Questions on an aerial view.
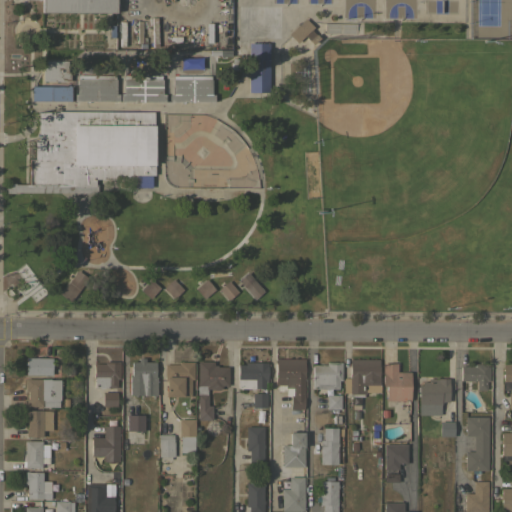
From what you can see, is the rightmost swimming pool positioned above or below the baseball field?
below it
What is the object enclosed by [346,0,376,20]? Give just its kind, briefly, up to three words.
basketball court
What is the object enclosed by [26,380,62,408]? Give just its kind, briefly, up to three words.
house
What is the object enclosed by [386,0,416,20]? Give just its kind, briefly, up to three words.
basketball court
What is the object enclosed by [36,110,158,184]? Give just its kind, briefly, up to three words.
building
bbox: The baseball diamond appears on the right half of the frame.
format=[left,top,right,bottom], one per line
[318,38,512,242]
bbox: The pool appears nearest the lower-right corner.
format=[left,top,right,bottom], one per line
[466,391,487,412]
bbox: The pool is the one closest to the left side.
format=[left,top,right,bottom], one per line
[385,424,412,443]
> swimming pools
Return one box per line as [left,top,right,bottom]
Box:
[466,391,487,412]
[385,424,412,443]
